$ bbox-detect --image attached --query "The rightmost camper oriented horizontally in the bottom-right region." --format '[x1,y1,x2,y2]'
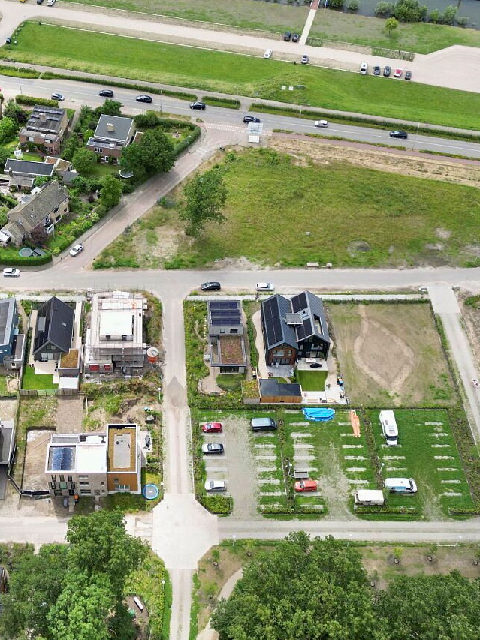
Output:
[383,477,417,493]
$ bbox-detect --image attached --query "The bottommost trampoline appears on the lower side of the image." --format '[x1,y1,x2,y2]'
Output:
[143,483,161,501]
